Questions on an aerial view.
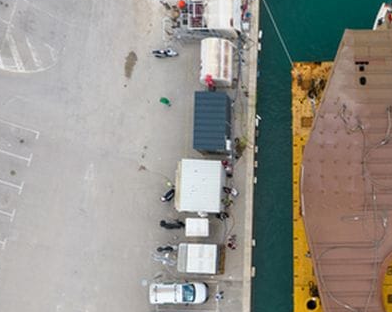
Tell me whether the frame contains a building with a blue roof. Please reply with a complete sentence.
No, the scene contains no building with a blue roof.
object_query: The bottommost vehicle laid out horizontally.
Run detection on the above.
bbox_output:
[150,280,206,306]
